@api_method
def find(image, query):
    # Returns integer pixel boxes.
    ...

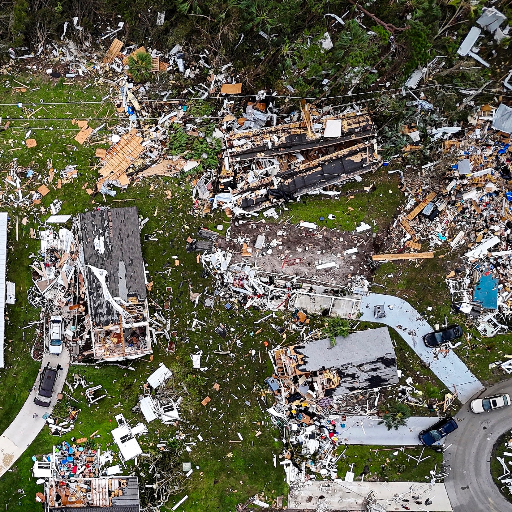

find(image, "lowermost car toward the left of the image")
[34,365,60,405]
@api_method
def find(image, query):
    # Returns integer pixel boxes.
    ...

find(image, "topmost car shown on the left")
[48,315,64,353]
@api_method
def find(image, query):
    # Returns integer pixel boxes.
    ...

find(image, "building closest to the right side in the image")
[266,327,404,405]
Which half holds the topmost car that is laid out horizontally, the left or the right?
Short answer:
right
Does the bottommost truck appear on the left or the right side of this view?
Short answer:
right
